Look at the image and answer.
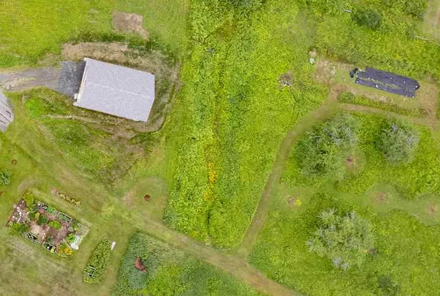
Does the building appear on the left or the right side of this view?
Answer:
left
